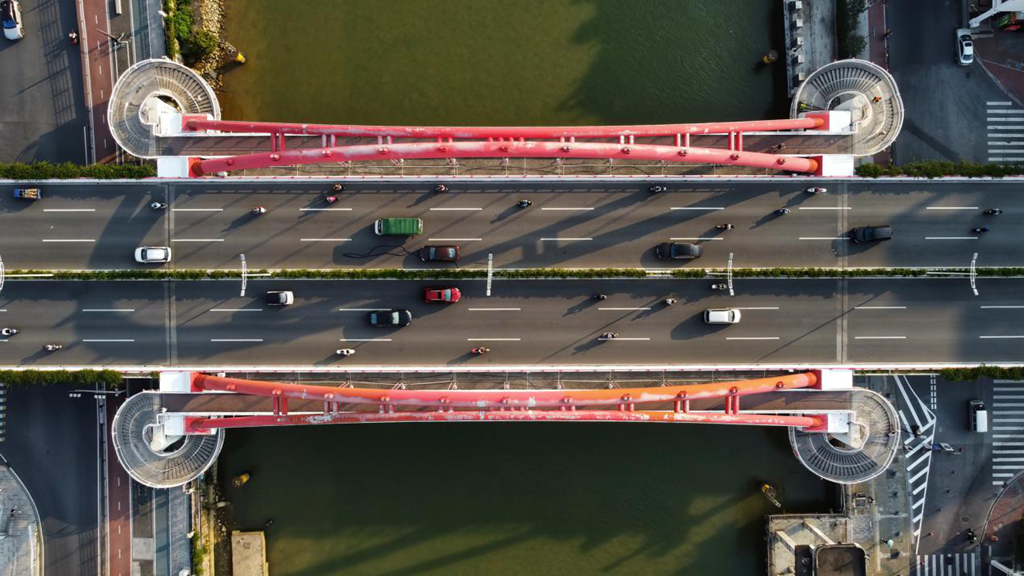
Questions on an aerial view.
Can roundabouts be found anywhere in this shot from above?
No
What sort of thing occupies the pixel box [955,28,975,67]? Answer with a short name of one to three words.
car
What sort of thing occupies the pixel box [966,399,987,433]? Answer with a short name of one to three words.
vehicle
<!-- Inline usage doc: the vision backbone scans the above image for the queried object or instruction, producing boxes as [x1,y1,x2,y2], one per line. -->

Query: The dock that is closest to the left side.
[231,531,271,576]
